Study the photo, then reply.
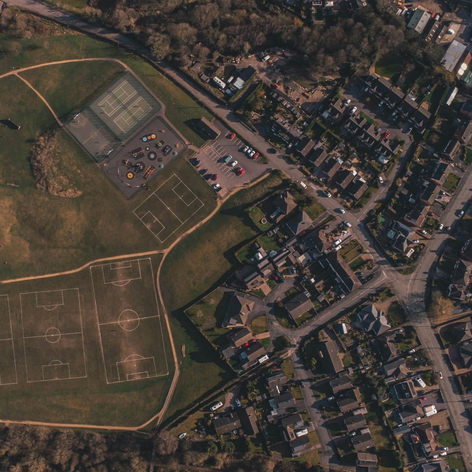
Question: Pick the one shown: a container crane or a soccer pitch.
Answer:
soccer pitch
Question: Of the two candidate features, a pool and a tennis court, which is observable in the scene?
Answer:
tennis court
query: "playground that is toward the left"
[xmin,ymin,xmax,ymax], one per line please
[101,116,187,199]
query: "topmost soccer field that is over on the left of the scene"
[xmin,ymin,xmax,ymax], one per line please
[133,174,204,243]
